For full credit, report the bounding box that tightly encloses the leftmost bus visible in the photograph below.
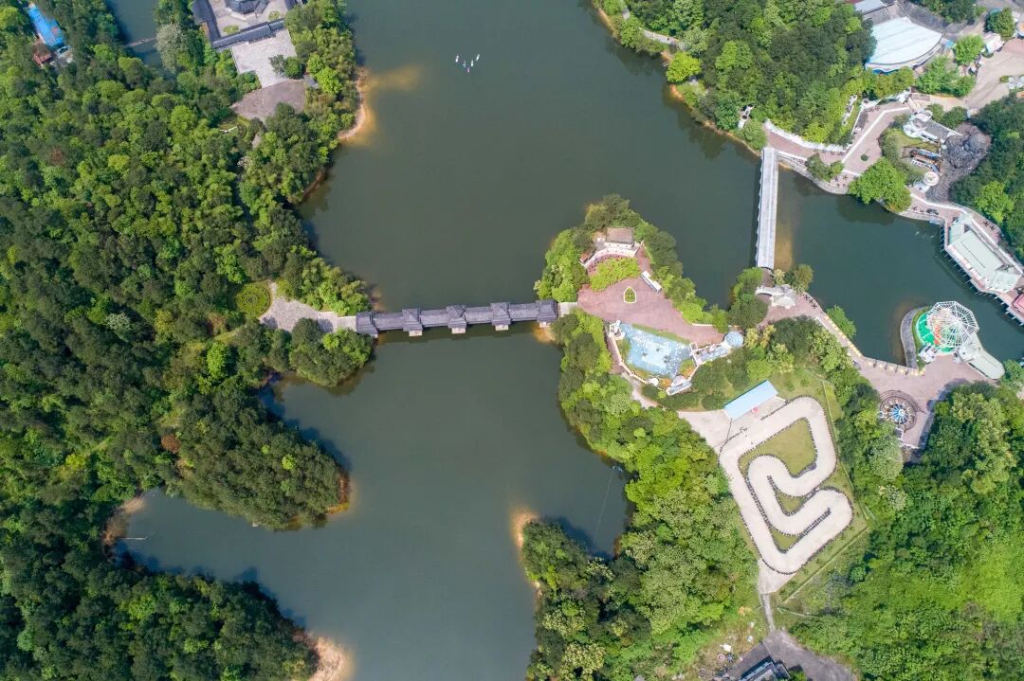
[640,272,661,292]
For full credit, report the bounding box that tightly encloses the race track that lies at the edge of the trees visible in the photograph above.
[713,393,853,575]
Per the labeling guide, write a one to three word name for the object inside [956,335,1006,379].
building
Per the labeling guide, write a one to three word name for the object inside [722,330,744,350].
building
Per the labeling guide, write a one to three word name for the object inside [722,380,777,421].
shed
